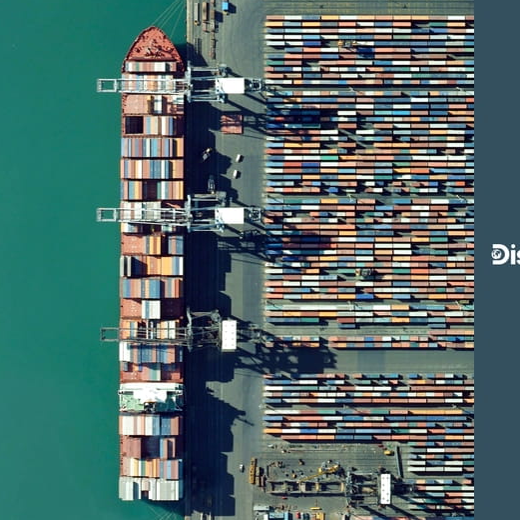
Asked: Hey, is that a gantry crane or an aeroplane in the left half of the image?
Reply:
gantry crane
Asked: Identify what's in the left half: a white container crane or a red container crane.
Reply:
white container crane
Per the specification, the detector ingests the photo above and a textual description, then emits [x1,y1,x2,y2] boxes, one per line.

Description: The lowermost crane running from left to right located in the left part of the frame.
[102,302,258,355]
